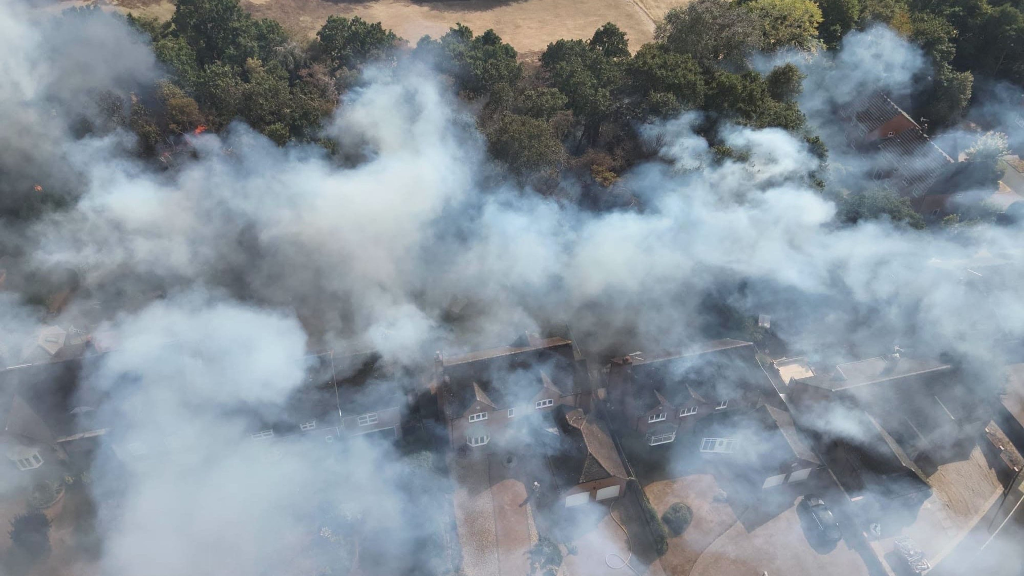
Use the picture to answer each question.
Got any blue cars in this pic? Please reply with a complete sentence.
No, there appears to be no blue car in this shot.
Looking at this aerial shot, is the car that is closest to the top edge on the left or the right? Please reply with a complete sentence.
The car that is closest to the top edge sits on the right side.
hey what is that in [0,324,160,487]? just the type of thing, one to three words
house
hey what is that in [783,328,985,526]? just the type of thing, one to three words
house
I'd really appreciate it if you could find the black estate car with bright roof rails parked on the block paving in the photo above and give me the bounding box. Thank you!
[800,501,844,550]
